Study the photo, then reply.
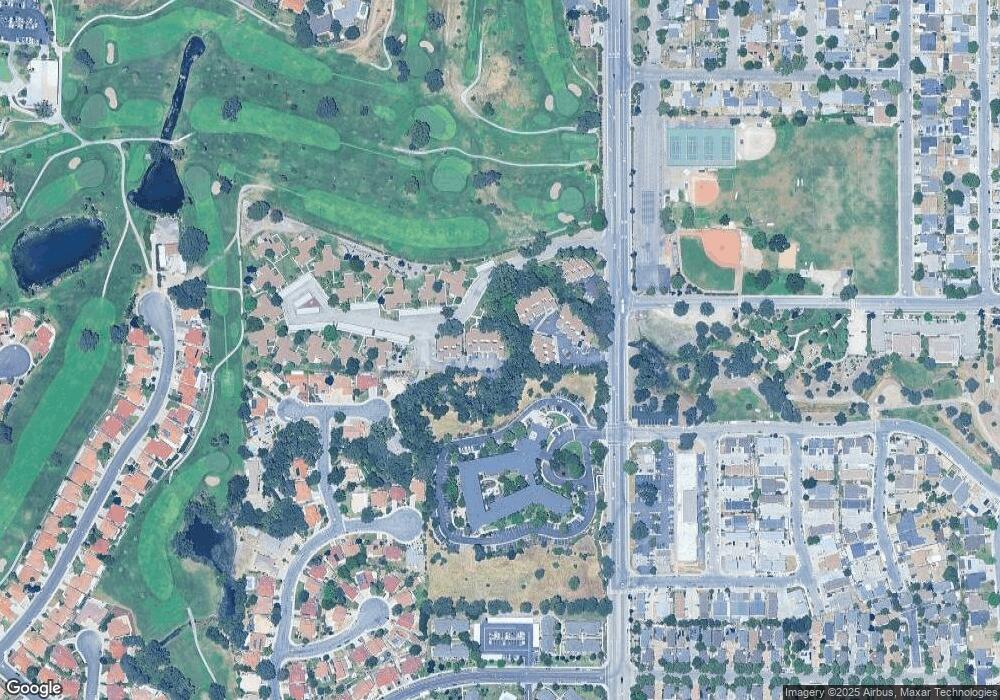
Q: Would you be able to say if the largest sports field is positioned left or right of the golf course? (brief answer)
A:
to its right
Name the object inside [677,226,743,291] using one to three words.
baseball field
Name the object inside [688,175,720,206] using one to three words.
baseball field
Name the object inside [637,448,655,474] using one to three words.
building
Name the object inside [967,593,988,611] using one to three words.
house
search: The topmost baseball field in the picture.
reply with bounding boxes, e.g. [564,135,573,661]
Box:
[736,119,776,160]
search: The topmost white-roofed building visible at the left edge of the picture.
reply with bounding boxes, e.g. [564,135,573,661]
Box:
[27,59,58,105]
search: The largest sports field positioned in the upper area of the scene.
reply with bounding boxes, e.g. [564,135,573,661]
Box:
[693,121,897,295]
